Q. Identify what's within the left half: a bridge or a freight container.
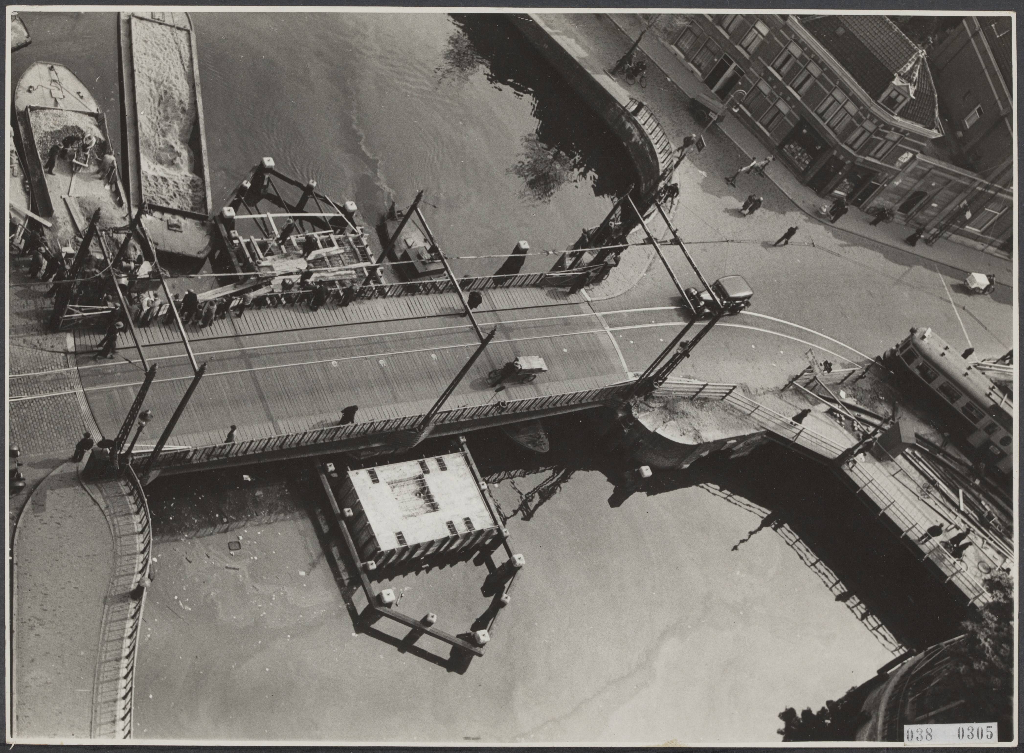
bridge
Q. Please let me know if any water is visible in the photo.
Yes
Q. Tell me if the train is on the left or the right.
right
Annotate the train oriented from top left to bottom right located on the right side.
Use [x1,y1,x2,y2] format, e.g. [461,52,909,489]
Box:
[882,325,1024,502]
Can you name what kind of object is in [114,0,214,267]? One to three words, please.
ship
